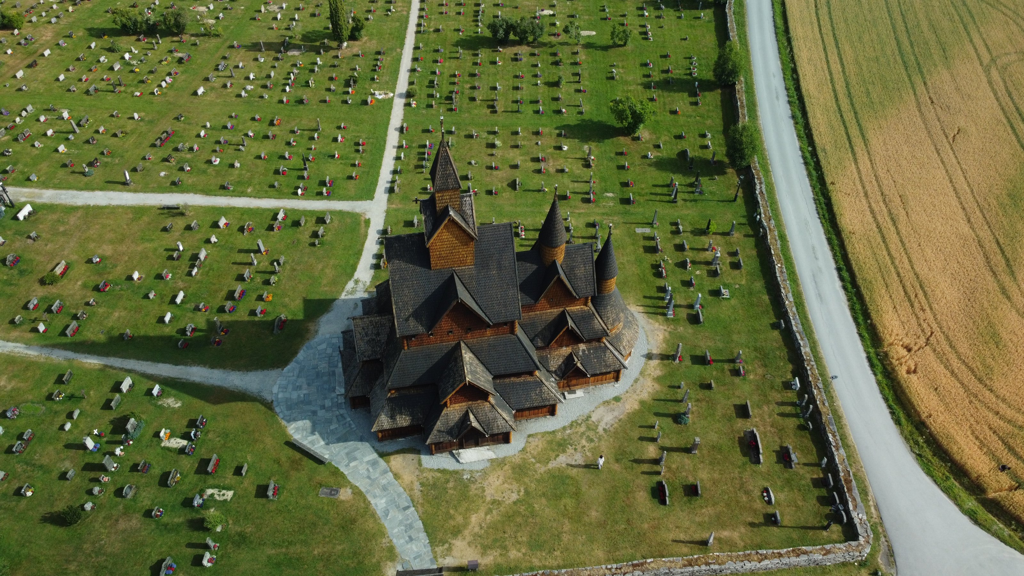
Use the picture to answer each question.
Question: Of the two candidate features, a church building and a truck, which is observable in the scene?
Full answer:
There is a church building in the scene.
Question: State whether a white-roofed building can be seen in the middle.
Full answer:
No, there's no white-roofed building to be seen in the middle.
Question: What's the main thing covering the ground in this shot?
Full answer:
What you mostly see from above here is grass.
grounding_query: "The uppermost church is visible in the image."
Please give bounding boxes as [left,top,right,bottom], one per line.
[337,108,641,456]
